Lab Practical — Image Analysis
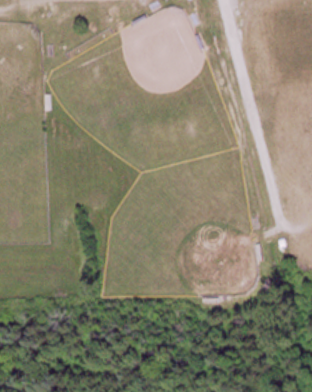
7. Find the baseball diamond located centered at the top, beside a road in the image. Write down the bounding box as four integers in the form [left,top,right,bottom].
[48,6,240,172]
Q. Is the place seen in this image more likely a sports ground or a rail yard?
sports ground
